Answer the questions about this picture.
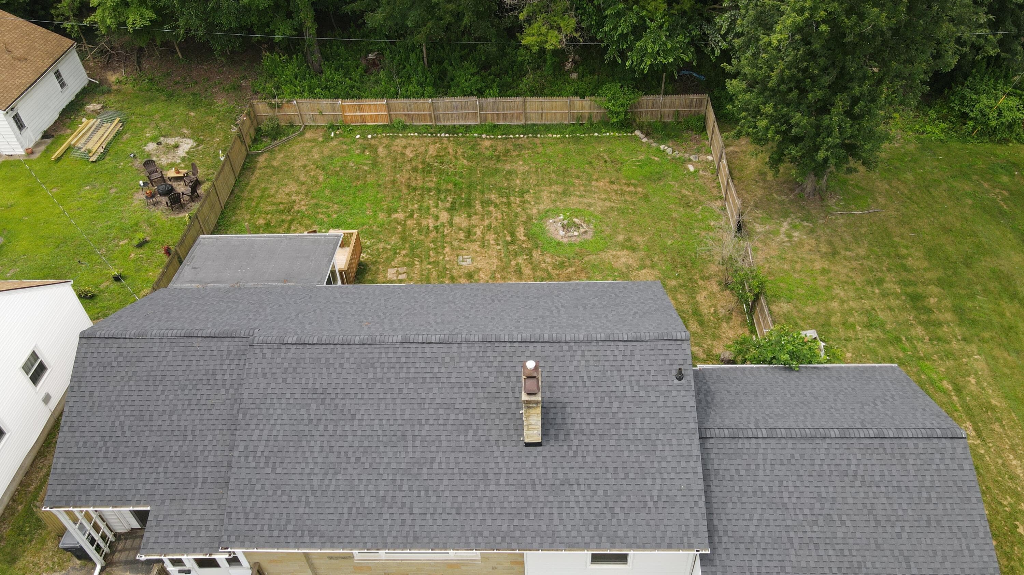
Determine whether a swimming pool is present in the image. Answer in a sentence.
No, I can see no swimming pool in this picture.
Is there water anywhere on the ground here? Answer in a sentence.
No, no water is visible.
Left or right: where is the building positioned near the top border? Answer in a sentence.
The building positioned near the top border is on the left side of the image.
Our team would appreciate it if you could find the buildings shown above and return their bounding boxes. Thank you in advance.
[0,7,105,154]
[41,229,1000,575]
